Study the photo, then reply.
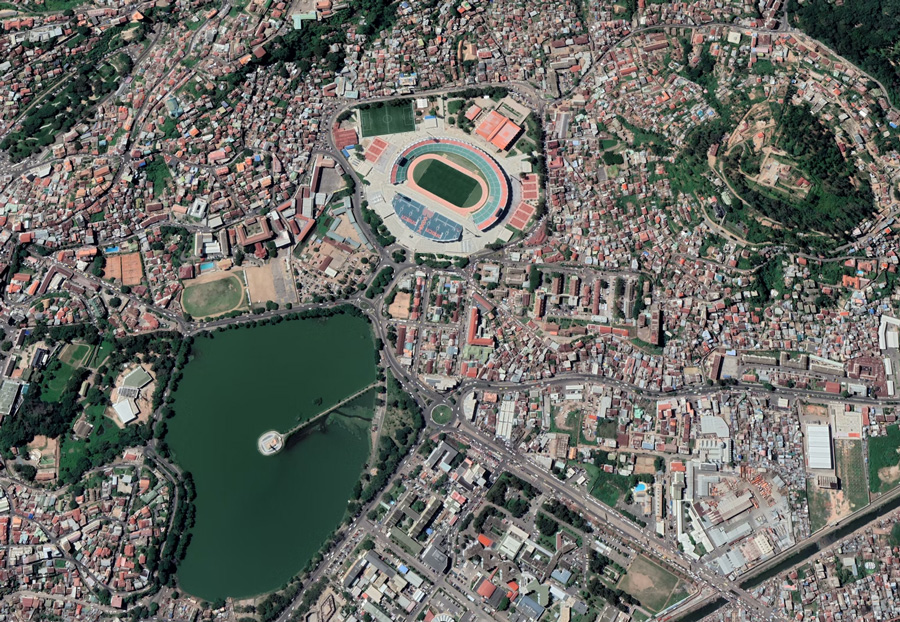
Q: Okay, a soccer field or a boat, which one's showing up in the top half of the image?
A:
soccer field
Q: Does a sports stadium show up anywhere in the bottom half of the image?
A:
No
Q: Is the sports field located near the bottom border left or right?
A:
right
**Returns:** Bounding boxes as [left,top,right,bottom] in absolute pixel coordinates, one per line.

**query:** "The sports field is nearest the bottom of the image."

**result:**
[618,556,670,611]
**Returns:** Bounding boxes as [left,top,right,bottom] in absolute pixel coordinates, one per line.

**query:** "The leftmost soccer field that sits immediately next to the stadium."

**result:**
[359,103,417,139]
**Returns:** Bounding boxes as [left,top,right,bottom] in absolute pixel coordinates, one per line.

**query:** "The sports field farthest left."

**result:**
[180,276,244,319]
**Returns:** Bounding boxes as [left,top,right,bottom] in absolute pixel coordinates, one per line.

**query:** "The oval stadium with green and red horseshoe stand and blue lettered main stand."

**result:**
[388,137,508,243]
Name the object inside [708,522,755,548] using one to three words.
building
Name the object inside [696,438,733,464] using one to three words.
building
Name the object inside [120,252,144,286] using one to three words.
tennis court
